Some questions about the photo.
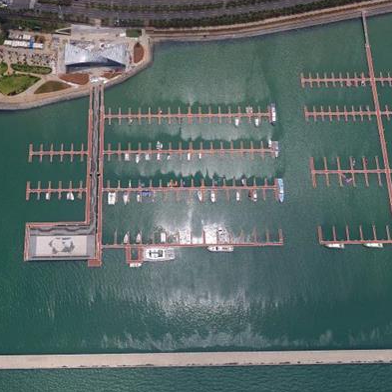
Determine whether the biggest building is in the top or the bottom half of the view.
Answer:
top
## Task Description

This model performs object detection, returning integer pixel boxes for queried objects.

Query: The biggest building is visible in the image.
[65,38,126,74]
